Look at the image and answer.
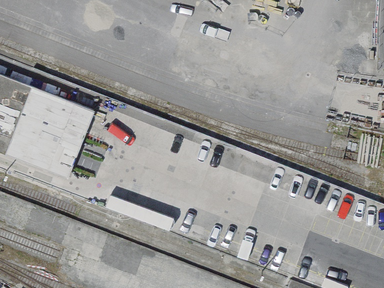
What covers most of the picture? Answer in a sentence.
The bulk of the photo consists of paved ground.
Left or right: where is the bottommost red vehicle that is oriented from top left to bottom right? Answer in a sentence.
It is on the left.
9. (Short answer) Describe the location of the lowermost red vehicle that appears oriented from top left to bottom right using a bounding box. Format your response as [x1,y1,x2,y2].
[108,124,134,145]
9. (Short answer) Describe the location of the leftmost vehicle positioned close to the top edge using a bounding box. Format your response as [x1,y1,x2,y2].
[170,2,196,16]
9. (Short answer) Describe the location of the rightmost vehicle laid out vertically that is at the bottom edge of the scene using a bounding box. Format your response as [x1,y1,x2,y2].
[300,256,312,278]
